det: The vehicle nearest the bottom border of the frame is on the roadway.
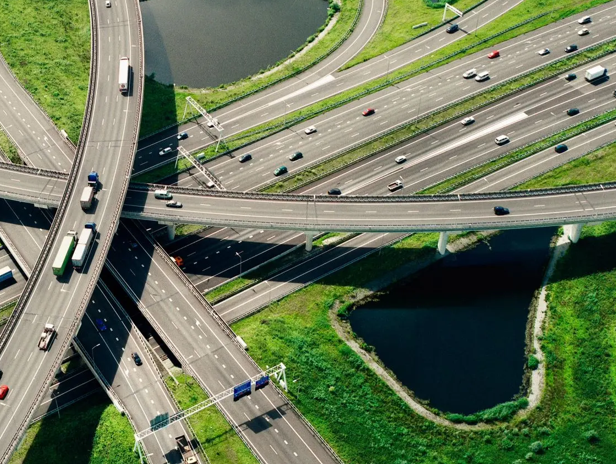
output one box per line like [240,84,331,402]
[175,431,200,464]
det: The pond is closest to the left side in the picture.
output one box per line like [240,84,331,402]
[140,0,330,88]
